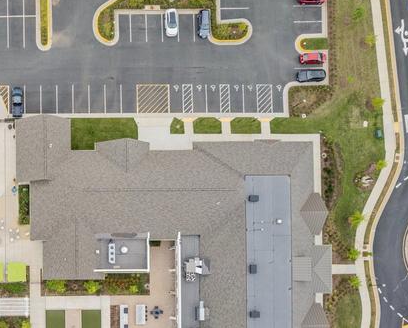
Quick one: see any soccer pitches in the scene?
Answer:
No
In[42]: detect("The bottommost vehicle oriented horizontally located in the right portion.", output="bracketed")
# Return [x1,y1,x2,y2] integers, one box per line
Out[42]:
[294,68,325,83]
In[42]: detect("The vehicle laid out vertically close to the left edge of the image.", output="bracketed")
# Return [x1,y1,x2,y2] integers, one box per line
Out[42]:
[11,86,24,119]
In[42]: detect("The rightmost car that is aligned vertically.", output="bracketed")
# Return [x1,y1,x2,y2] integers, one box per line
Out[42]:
[197,8,211,40]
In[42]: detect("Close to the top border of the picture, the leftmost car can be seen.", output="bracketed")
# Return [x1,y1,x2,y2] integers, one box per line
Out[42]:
[164,8,179,39]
